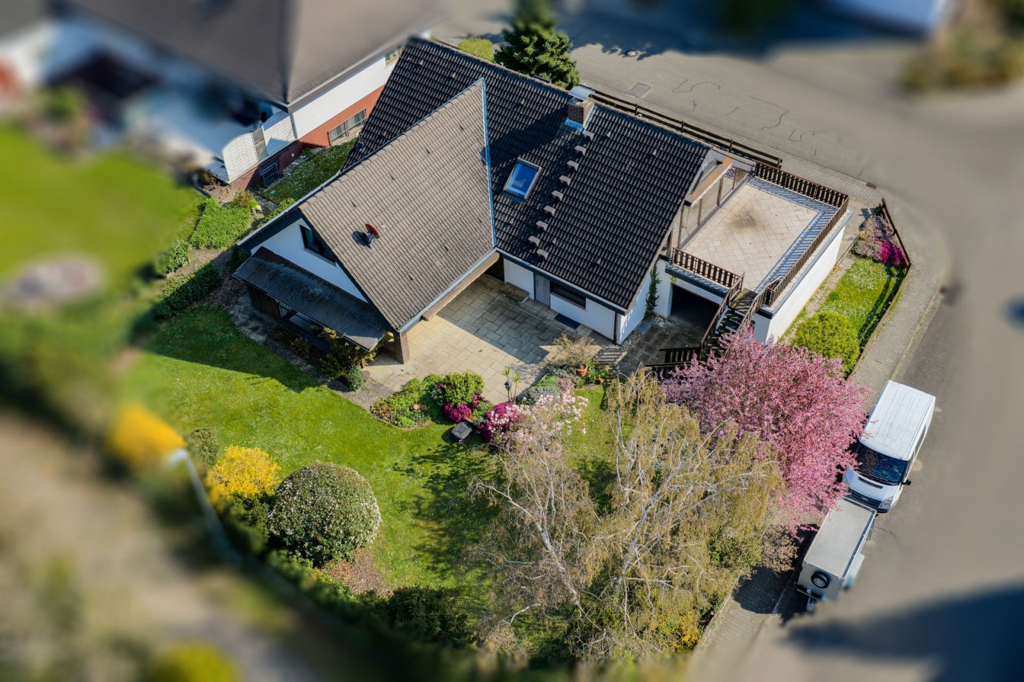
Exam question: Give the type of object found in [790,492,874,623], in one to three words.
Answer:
trailer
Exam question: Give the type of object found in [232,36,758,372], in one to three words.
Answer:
house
